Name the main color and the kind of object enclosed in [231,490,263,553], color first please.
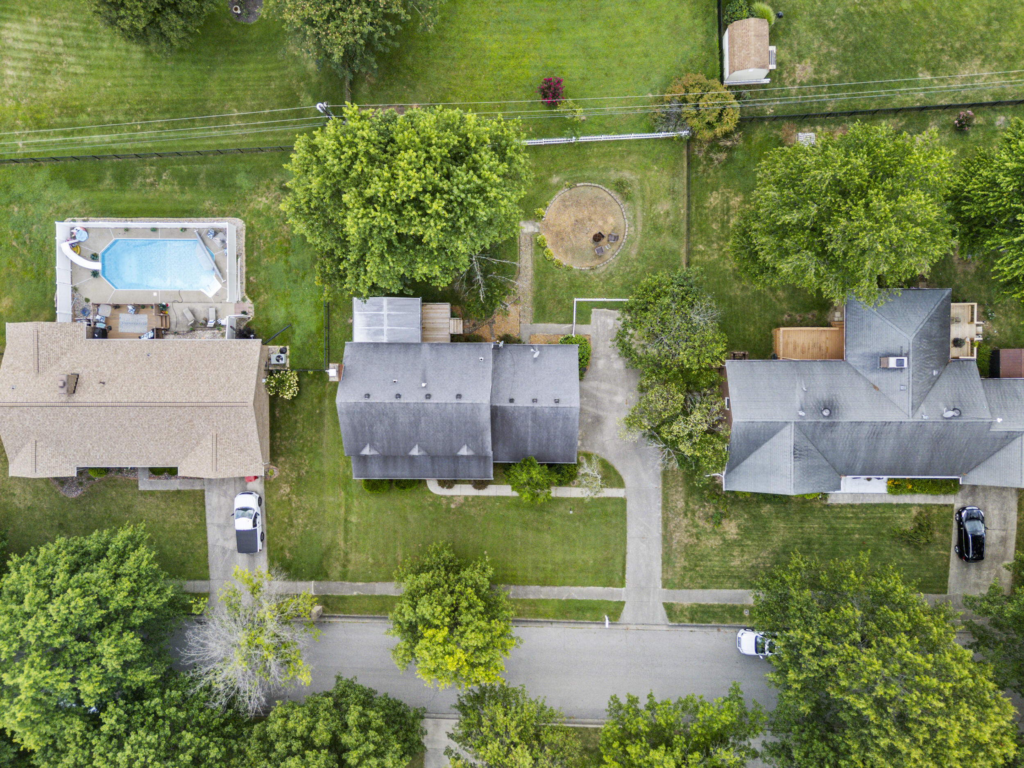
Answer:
white truck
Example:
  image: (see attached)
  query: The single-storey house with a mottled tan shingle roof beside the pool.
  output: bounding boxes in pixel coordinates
[0,321,277,478]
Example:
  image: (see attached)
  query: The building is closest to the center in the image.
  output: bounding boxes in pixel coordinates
[324,296,581,481]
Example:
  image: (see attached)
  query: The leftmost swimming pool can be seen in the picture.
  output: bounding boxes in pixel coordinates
[98,237,221,297]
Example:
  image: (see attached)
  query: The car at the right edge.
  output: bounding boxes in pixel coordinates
[954,504,989,562]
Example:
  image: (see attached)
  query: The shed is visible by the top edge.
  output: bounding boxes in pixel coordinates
[724,15,772,89]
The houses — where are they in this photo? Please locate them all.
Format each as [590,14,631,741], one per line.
[0,321,277,478]
[324,296,581,481]
[710,287,1024,494]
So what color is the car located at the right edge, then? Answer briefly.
black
